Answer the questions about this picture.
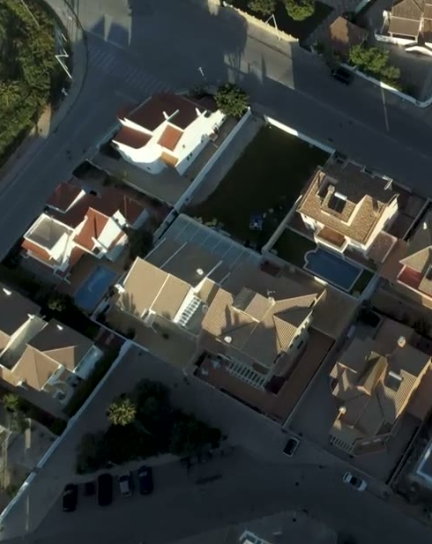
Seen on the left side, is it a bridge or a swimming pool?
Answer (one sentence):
Looking on the left side, you will find a swimming pool.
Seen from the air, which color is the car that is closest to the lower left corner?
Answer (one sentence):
The car that is closest to the lower left corner is black.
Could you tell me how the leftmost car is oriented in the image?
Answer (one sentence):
I'd say the leftmost car is aligned from top to bottom in the picture.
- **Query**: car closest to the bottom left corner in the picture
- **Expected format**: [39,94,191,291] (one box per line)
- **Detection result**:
[57,480,77,514]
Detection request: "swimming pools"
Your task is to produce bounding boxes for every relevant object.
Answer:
[302,243,366,294]
[71,266,120,312]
